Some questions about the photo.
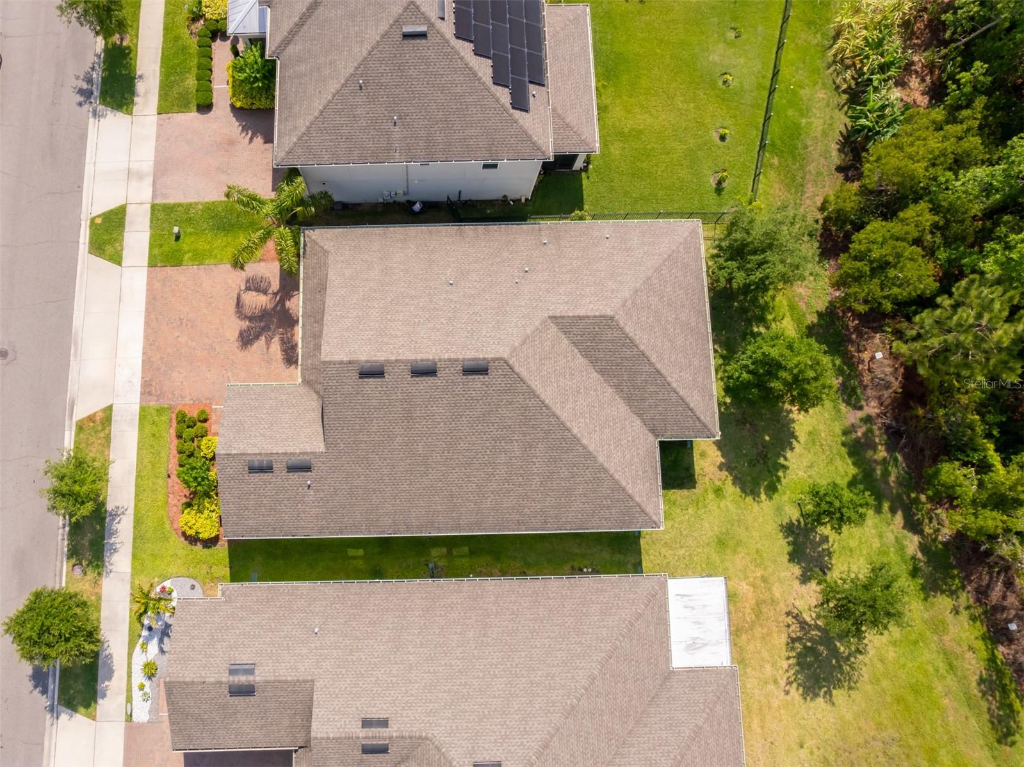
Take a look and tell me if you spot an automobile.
No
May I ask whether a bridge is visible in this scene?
No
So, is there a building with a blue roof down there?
No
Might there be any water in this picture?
No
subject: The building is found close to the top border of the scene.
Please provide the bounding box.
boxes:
[226,0,601,203]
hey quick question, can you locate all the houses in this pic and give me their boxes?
[163,573,750,767]
[226,0,601,203]
[216,218,723,539]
